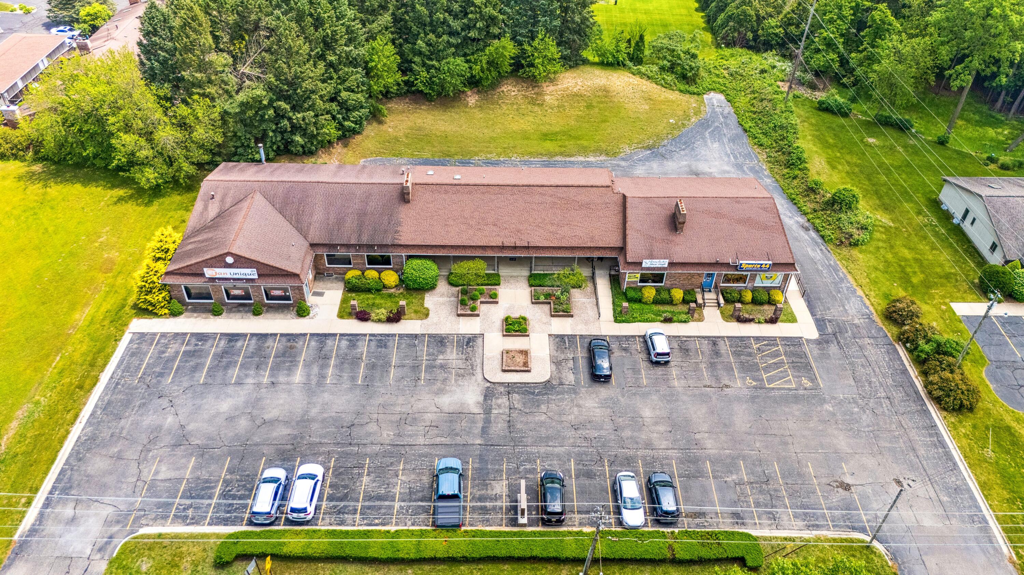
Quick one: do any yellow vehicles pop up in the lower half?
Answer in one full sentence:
No, the scene shows no yellow vehicle in the lower half.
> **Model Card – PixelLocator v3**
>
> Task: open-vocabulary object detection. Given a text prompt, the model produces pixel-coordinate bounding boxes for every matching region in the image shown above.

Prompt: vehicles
[539,471,568,526]
[589,339,614,382]
[251,469,288,524]
[434,457,464,528]
[288,465,324,522]
[614,471,646,530]
[648,473,681,523]
[644,329,672,364]
[48,24,83,39]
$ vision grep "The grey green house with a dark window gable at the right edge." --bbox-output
[938,175,1024,263]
